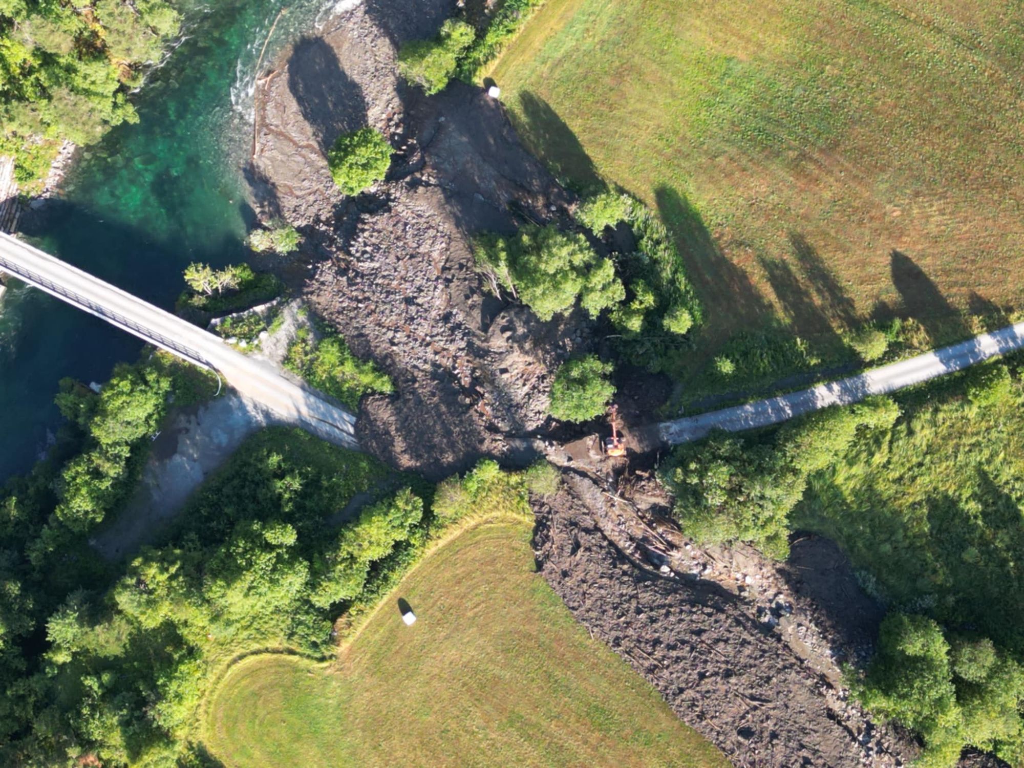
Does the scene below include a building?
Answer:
No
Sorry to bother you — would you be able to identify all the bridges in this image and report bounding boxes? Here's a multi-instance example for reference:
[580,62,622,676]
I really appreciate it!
[0,228,234,371]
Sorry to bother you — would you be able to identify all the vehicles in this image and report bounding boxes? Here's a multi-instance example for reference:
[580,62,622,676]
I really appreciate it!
[606,407,625,457]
